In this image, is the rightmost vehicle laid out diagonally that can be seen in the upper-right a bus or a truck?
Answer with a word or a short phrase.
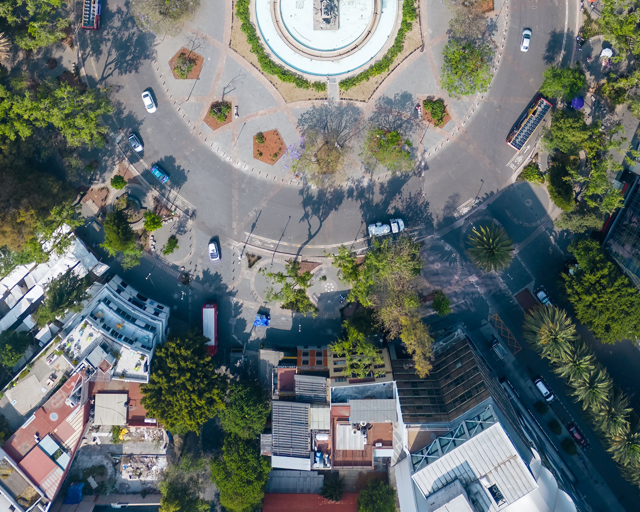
bus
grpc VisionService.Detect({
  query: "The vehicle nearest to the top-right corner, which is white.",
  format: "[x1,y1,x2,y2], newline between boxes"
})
[520,27,533,52]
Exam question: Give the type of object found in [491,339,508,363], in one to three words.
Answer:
vehicle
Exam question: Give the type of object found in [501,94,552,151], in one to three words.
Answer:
bus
